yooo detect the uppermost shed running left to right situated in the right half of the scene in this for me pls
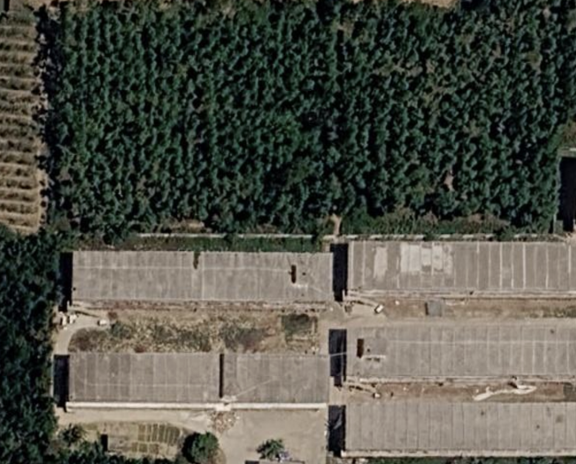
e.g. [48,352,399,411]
[346,241,576,302]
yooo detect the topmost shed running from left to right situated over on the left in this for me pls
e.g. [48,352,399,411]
[70,252,333,313]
